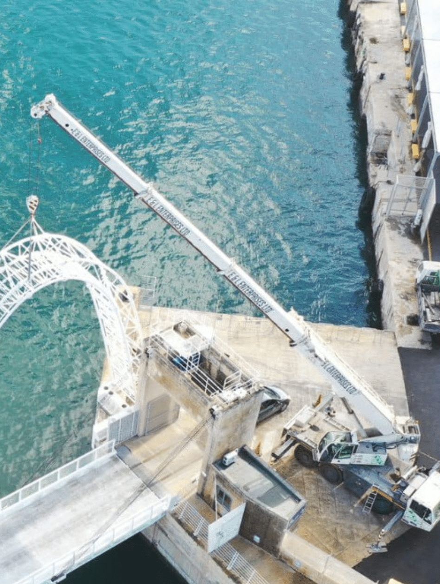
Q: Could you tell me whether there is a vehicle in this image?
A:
Yes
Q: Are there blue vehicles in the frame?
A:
No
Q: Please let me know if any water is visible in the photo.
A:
Yes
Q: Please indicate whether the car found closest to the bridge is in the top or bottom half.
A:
bottom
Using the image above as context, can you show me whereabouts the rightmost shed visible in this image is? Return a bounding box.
[206,446,307,554]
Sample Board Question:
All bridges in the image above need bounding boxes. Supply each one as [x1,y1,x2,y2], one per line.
[0,440,169,584]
